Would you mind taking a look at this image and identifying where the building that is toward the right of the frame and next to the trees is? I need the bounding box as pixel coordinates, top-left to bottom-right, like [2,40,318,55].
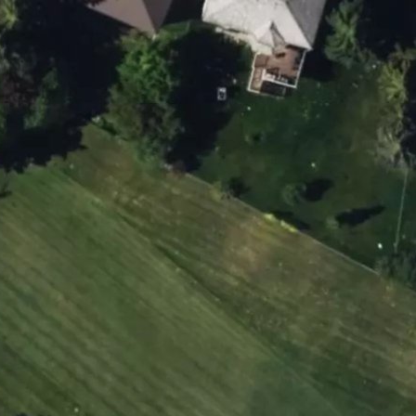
[202,0,324,93]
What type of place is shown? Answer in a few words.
golf course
